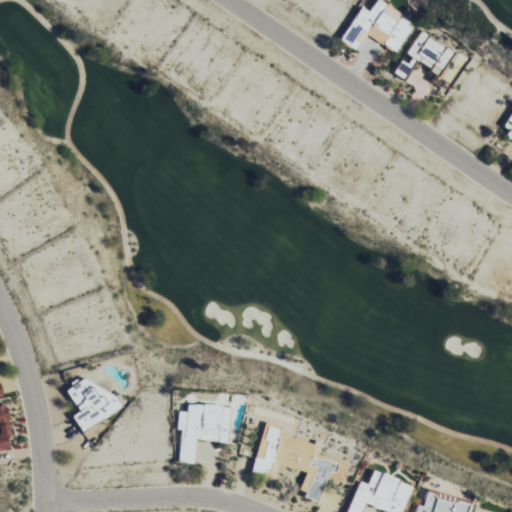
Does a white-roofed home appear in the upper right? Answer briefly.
Yes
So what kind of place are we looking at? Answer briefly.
golf course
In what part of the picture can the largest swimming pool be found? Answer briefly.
bottom left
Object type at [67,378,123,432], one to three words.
house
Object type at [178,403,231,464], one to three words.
house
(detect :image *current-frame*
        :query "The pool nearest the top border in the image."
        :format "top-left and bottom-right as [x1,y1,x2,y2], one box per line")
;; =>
[106,364,130,390]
